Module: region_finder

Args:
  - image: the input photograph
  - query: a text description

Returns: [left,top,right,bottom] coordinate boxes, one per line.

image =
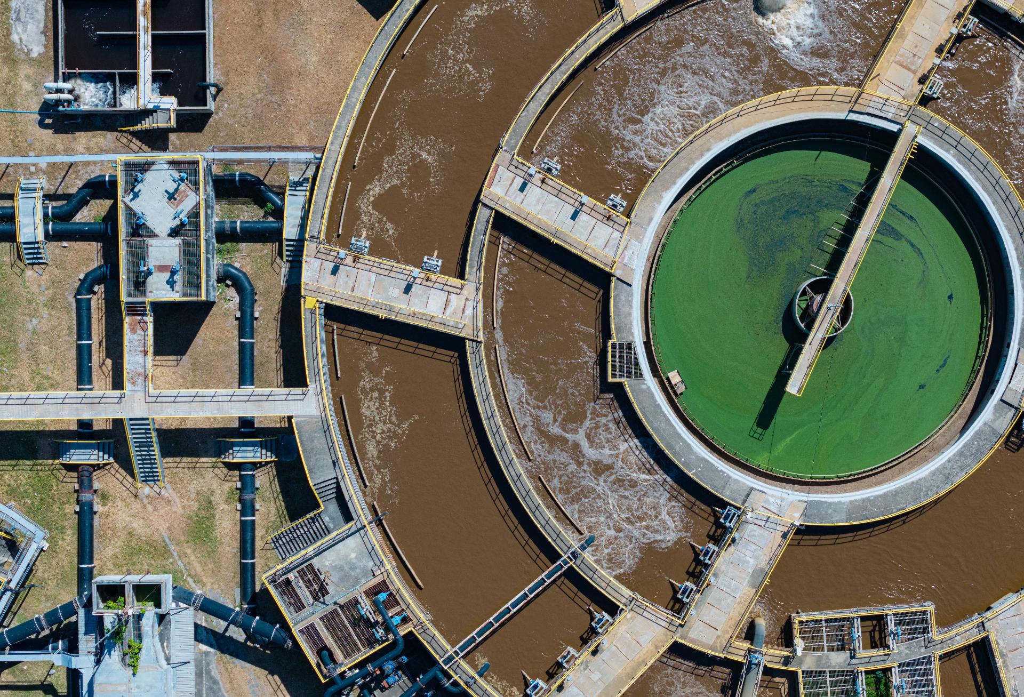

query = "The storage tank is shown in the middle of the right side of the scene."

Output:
[607,87,1024,526]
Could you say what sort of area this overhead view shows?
industrial area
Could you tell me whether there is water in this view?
Yes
